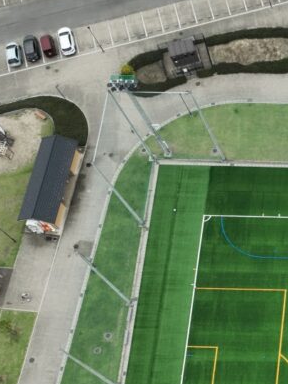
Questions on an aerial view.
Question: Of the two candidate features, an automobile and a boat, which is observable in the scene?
automobile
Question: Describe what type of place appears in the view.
sports ground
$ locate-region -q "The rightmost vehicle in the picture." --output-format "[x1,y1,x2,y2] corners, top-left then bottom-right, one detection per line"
[58,28,77,57]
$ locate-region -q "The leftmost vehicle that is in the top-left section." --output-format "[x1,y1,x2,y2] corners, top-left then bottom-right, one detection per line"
[5,43,23,69]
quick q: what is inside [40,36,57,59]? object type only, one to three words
car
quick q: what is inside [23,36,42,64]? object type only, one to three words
car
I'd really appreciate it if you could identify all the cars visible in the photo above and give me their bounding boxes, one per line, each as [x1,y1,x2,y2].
[58,28,77,57]
[23,36,42,64]
[40,36,57,59]
[5,43,23,69]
